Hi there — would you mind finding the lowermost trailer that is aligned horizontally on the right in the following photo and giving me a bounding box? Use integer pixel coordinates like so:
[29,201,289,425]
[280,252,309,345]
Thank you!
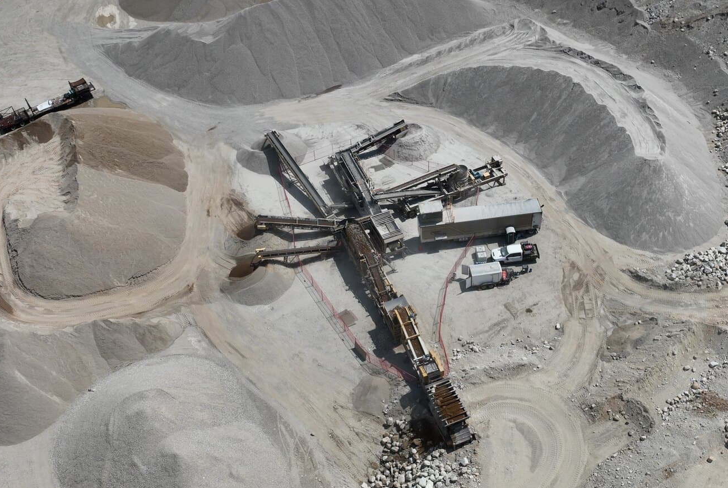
[458,260,521,291]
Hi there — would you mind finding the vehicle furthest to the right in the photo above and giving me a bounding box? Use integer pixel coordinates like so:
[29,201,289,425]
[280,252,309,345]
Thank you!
[492,245,547,266]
